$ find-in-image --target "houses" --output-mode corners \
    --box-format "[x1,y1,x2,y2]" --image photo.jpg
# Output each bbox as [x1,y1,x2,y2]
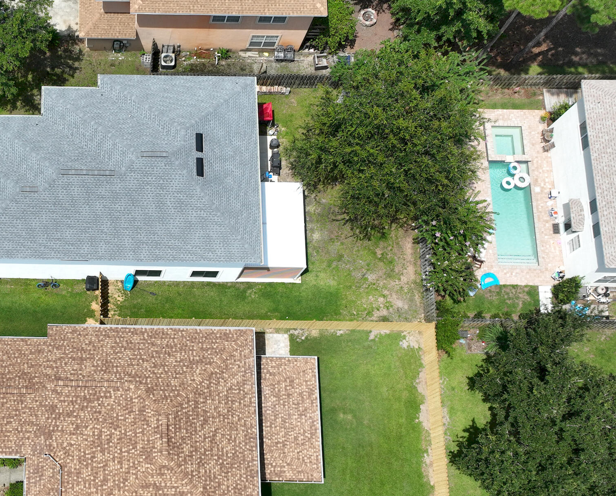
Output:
[0,324,325,496]
[551,78,616,286]
[0,74,308,280]
[77,0,328,54]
